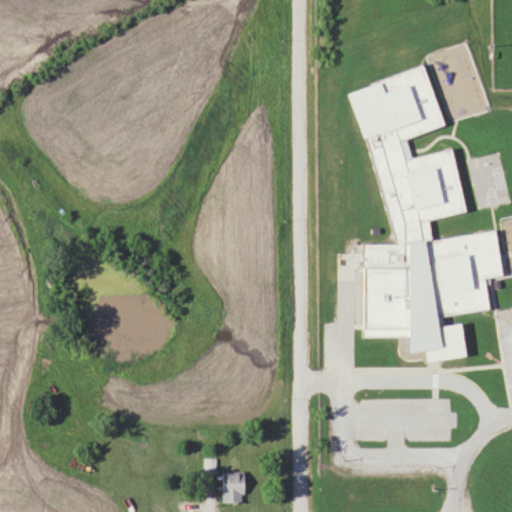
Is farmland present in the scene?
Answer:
Yes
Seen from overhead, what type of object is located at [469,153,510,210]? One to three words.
basketball court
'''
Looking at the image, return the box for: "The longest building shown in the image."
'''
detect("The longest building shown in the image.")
[348,64,504,364]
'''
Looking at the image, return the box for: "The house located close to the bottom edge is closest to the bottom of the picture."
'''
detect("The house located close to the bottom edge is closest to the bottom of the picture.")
[222,473,246,507]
